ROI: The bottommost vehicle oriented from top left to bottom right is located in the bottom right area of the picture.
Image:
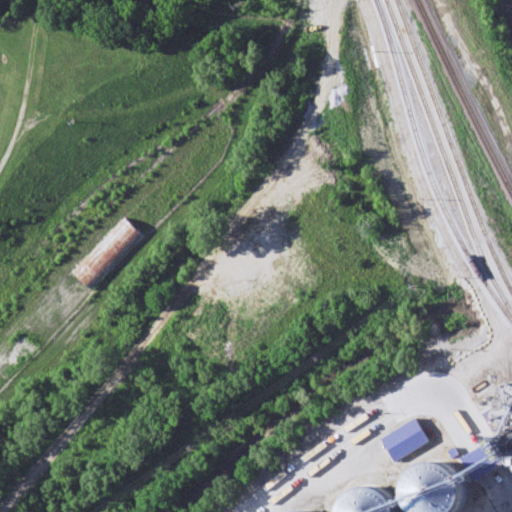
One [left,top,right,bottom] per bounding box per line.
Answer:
[454,410,478,444]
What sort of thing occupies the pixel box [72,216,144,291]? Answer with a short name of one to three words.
barn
